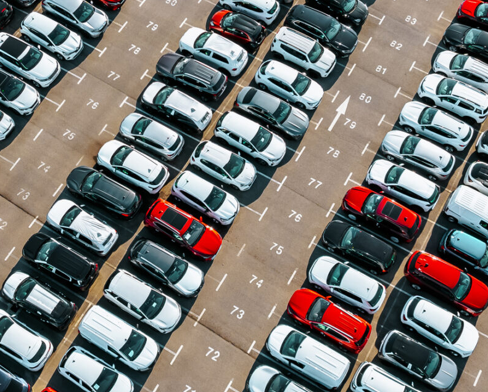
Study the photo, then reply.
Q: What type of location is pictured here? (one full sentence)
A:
This image shows a parking lot.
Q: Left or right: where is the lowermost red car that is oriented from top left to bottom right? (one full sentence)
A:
You can find the lowermost red car that is oriented from top left to bottom right on the right side of the picture.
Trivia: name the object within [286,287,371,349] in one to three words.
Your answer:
car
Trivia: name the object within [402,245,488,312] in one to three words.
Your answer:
car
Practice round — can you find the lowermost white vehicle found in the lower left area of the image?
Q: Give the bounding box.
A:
[54,335,134,392]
